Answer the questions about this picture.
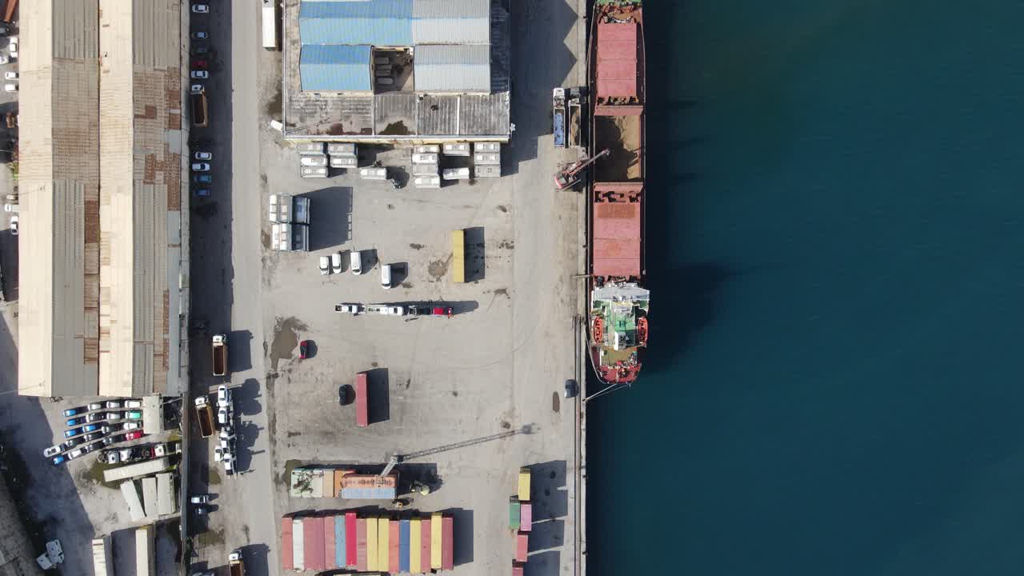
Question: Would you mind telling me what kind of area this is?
port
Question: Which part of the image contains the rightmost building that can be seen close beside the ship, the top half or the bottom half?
top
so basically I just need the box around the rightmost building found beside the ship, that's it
[284,0,513,141]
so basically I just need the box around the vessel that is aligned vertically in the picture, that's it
[587,0,649,384]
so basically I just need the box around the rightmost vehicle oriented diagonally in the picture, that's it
[551,146,613,191]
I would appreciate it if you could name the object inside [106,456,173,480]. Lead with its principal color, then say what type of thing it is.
white trailer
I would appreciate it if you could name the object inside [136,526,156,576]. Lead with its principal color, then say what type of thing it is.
white trailer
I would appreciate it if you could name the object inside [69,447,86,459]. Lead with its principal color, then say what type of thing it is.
white vehicle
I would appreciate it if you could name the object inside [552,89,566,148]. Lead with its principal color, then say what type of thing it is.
white vehicle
